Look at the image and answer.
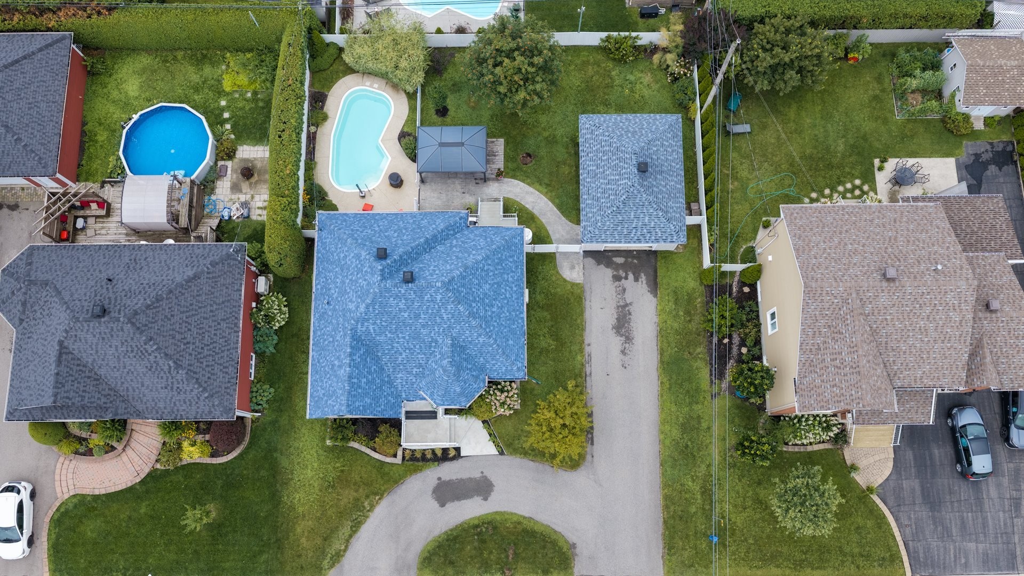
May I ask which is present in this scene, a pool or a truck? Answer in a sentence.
I can see a pool in this picture.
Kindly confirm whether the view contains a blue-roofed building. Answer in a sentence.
Yes, the photo shows a blue-roofed building.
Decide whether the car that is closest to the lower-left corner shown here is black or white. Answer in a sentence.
From above, the car that is closest to the lower-left corner appears white.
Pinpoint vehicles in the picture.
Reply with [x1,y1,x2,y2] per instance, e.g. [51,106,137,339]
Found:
[0,481,35,558]
[945,407,994,480]
[1003,390,1024,447]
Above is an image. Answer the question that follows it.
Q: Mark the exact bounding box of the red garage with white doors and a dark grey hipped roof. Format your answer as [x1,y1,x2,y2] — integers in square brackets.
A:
[0,31,89,185]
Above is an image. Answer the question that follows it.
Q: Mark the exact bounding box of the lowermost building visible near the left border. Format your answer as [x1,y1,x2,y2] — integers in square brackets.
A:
[0,241,259,425]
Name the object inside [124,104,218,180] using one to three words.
swimming pool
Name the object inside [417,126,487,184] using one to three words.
gazebo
